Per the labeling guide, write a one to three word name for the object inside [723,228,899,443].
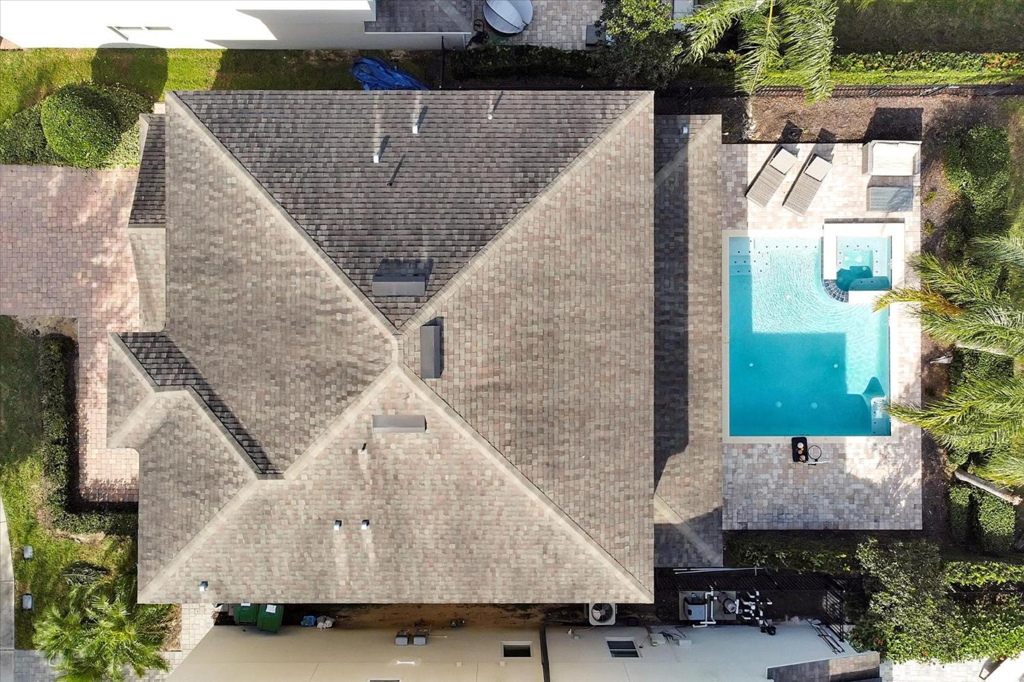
swimming pool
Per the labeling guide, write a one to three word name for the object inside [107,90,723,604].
house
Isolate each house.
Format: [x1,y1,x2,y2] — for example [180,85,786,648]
[107,90,723,604]
[0,0,474,49]
[157,621,888,682]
